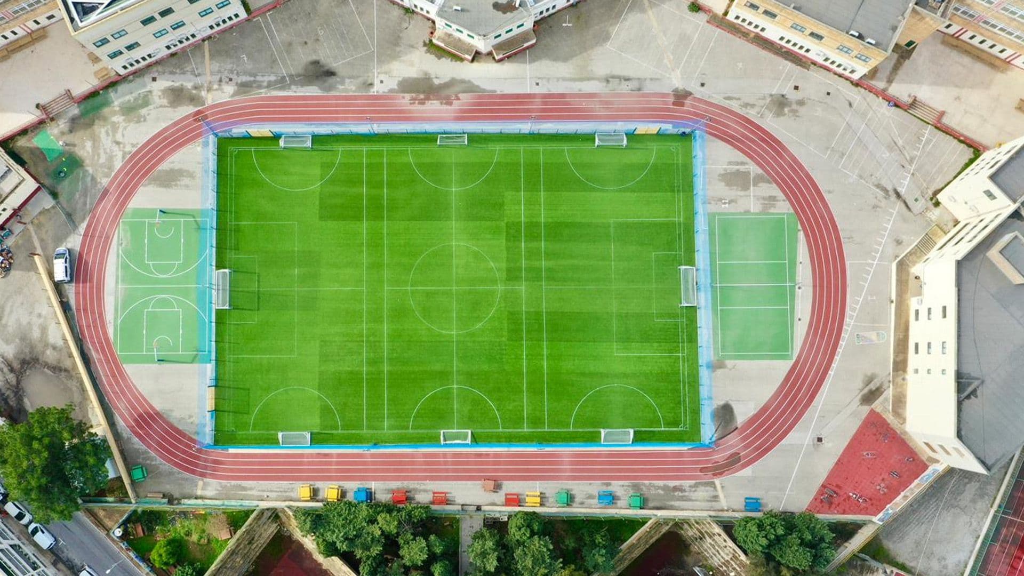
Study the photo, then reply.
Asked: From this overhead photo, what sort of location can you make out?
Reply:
sports ground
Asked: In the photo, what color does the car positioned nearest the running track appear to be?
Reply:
white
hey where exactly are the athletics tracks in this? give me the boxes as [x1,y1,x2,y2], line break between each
[74,94,846,483]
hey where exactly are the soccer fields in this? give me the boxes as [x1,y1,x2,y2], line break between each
[214,133,702,445]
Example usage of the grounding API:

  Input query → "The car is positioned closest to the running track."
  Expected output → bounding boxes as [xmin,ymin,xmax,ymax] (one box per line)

[53,248,74,282]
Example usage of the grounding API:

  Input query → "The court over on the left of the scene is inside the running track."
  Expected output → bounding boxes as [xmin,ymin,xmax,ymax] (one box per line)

[113,209,209,364]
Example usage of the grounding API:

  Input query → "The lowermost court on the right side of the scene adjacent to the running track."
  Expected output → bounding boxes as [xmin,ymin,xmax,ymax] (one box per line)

[622,525,724,576]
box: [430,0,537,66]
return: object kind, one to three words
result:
building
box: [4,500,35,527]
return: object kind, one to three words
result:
car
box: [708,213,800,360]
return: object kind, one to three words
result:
sports court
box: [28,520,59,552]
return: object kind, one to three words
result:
car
